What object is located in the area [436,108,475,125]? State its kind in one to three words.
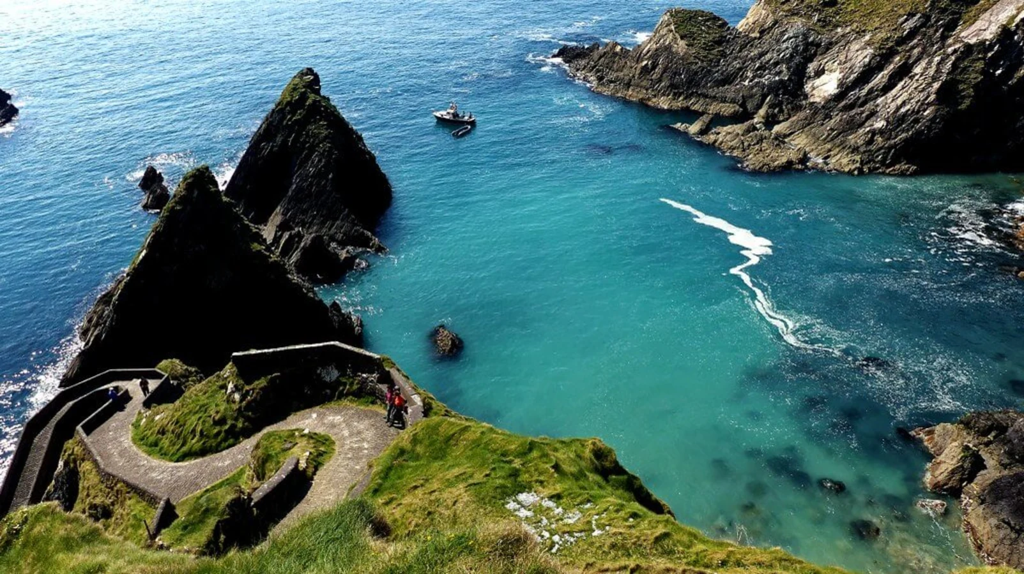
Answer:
boat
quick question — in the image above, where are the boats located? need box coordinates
[450,127,470,138]
[436,108,475,125]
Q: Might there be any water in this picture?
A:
Yes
